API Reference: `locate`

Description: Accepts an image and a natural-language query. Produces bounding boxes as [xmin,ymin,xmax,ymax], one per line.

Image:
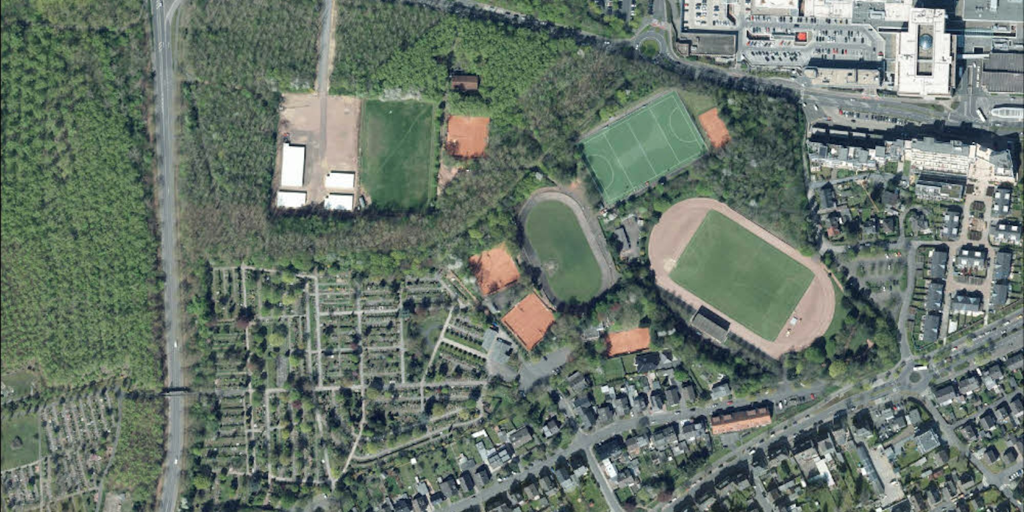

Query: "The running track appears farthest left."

[518,186,618,307]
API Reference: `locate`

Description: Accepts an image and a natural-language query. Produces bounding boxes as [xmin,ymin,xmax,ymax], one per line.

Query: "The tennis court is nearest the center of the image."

[471,242,520,295]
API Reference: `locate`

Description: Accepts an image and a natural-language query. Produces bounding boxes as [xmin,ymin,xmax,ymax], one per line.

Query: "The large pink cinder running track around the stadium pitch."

[648,197,844,360]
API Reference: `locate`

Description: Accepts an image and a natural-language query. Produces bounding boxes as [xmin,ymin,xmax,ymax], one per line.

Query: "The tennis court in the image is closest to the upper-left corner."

[447,116,489,157]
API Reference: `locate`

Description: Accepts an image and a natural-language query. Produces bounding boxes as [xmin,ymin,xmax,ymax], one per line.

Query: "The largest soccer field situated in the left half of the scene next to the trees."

[358,99,434,209]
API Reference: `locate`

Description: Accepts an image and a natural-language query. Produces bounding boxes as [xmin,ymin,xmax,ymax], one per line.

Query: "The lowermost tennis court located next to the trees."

[607,328,650,358]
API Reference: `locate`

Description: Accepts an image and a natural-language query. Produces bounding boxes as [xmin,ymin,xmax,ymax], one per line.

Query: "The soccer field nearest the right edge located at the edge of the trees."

[669,210,815,341]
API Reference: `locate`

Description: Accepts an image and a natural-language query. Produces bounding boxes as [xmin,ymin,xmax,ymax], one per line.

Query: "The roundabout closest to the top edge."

[633,32,667,65]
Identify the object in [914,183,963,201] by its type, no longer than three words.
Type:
building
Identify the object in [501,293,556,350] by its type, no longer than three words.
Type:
tennis court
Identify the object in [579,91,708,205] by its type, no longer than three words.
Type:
sports field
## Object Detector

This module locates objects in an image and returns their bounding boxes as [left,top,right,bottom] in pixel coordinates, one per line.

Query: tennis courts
[501,293,556,350]
[447,116,489,157]
[471,242,520,295]
[700,108,729,147]
[607,328,650,358]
